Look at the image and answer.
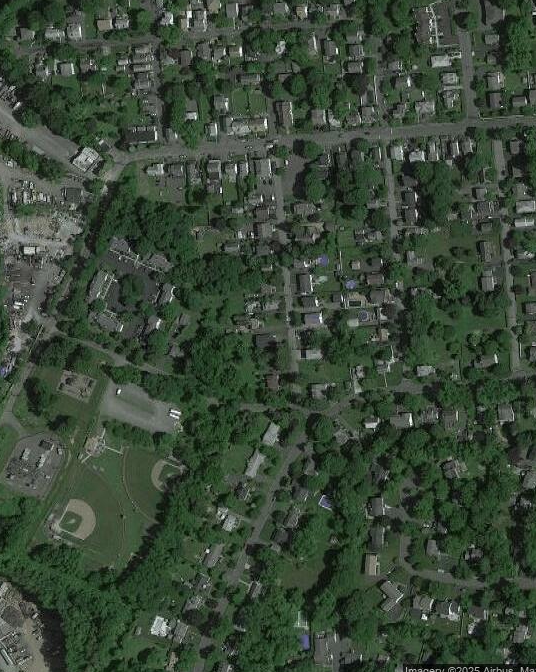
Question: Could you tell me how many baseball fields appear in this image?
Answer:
2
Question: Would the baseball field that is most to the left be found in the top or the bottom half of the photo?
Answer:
bottom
